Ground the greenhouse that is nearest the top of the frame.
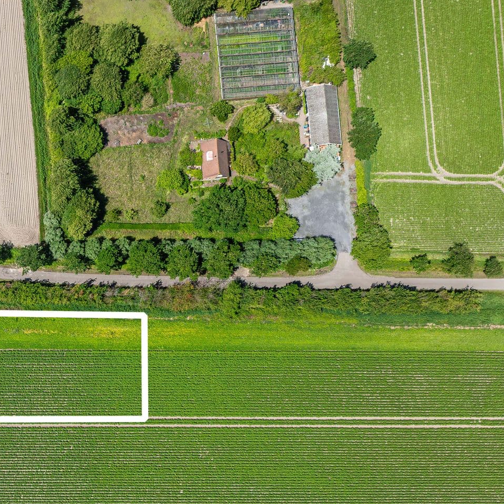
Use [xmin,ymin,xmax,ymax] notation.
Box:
[212,6,302,102]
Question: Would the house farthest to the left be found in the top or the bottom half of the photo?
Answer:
top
